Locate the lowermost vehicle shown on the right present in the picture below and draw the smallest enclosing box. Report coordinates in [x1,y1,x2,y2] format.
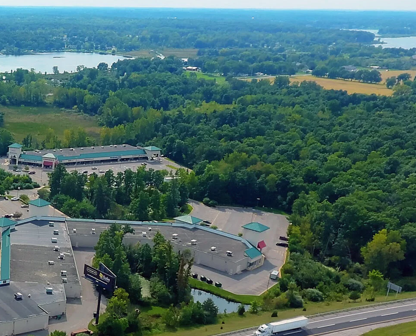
[259,313,307,336]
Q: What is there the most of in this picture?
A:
trees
